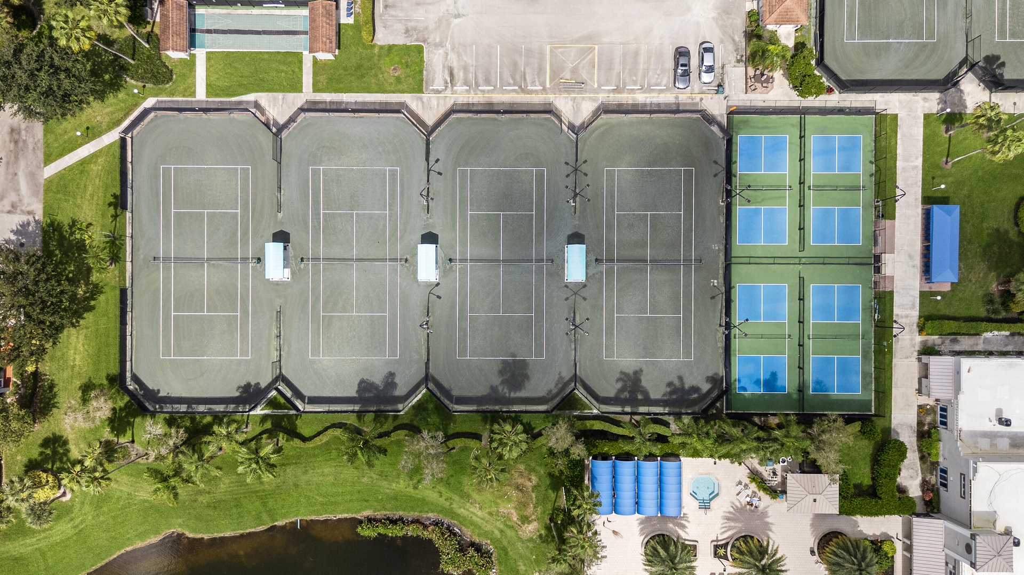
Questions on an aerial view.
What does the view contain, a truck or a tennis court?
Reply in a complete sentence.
Of the two, only a tennis court appears.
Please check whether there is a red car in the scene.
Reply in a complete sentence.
No, no red car is visible in the scene.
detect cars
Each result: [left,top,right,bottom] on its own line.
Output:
[673,47,692,88]
[698,42,717,83]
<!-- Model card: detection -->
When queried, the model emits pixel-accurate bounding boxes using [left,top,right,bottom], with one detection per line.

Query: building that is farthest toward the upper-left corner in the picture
[159,0,194,57]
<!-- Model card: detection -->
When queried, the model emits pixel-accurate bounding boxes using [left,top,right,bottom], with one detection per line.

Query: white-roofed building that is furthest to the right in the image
[901,356,1024,575]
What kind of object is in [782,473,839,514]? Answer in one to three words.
shed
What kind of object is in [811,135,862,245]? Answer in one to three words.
sports court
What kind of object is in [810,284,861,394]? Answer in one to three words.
sports court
